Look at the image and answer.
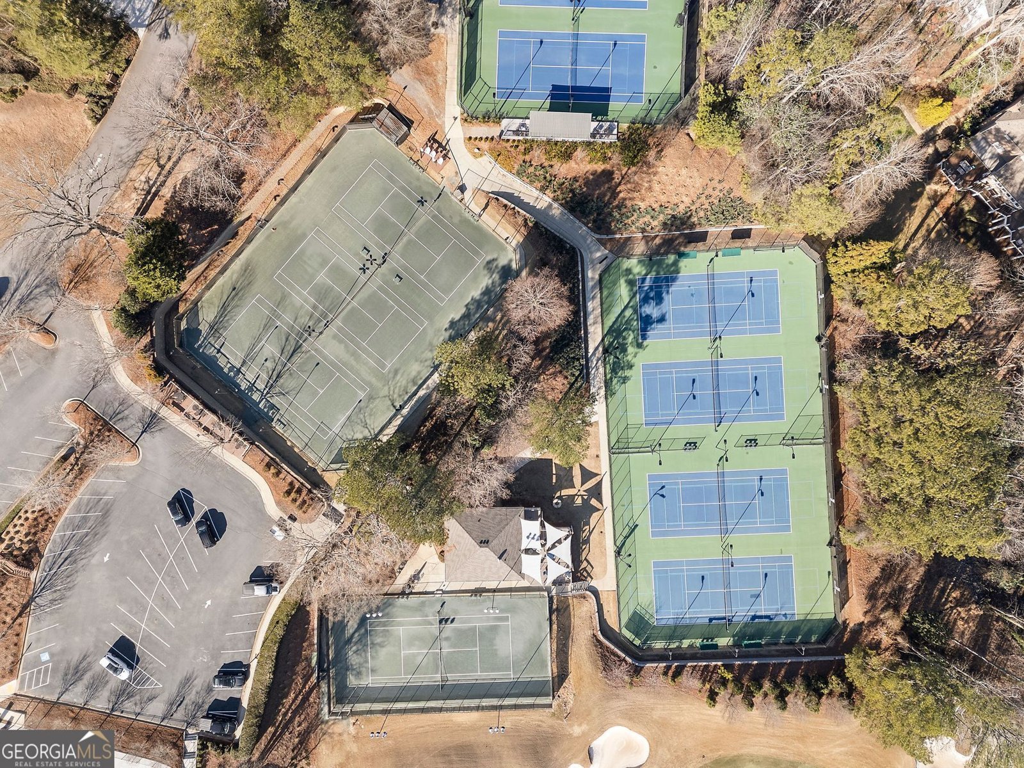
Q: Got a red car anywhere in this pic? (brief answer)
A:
No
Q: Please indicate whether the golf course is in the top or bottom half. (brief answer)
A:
bottom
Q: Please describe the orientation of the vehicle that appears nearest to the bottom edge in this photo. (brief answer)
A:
horizontally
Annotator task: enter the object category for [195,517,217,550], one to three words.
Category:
car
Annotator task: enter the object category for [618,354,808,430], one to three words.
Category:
tennis court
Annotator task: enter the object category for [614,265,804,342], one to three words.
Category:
tennis court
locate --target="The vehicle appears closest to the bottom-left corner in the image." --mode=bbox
[99,653,131,679]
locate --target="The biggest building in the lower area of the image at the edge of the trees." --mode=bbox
[445,506,525,582]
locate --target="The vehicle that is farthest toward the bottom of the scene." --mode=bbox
[198,716,238,736]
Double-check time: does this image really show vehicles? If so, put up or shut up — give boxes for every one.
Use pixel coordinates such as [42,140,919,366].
[99,653,131,679]
[198,716,238,736]
[241,581,281,597]
[166,498,190,528]
[213,673,246,690]
[195,517,217,550]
